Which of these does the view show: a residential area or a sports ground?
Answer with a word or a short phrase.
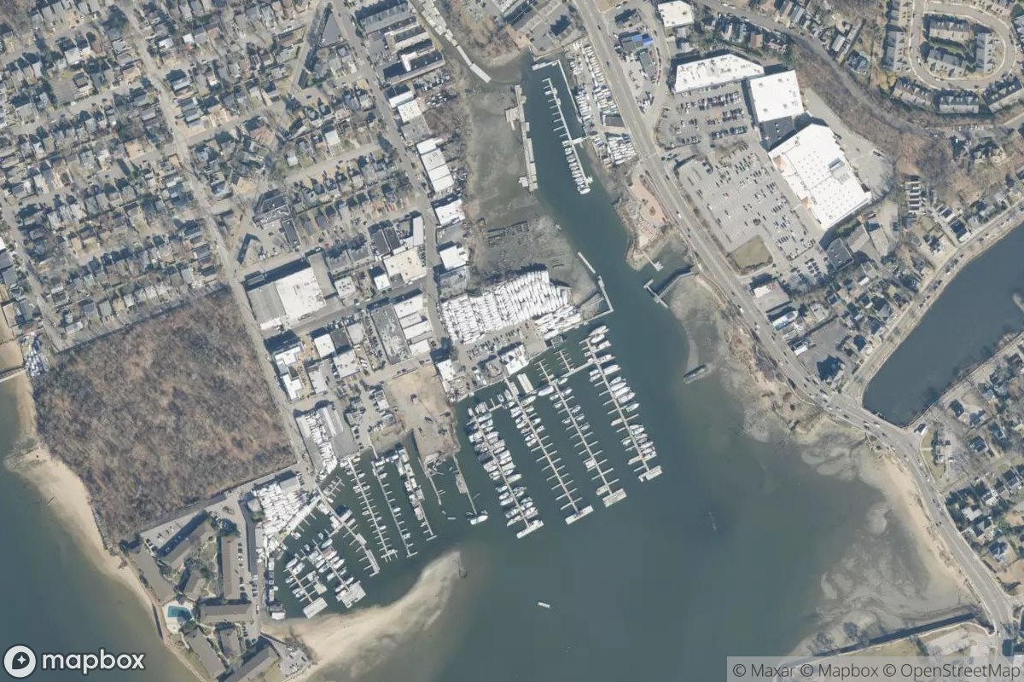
residential area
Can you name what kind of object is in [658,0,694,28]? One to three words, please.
building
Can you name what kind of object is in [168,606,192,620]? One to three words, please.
swimming pool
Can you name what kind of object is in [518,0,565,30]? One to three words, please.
building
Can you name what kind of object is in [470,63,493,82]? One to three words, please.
ship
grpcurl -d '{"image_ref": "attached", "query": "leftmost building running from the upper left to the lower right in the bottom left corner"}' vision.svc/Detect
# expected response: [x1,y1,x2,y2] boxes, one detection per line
[132,545,176,605]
